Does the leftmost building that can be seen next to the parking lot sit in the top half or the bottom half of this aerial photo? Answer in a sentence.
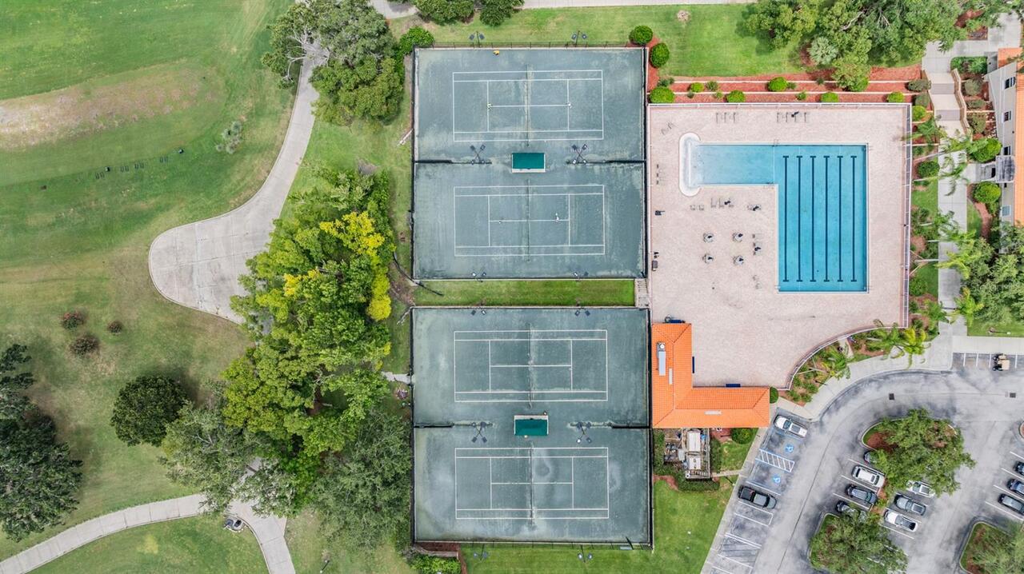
The leftmost building that can be seen next to the parking lot is in the bottom half of the image.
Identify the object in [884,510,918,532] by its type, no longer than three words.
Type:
car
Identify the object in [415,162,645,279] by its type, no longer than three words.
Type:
tennis court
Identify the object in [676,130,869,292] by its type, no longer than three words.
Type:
swimming pool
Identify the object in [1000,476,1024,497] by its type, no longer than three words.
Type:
car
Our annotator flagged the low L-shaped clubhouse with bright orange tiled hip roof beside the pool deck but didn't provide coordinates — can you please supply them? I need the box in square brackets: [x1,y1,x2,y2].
[652,319,770,429]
